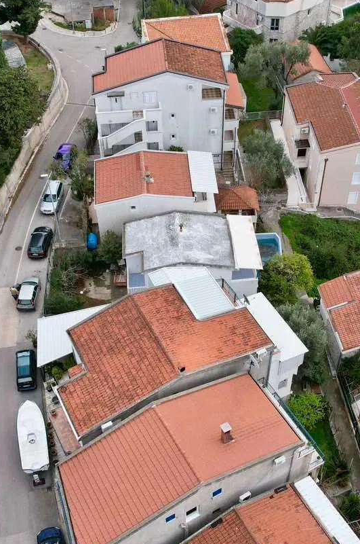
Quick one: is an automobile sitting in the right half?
No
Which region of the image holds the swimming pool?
right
